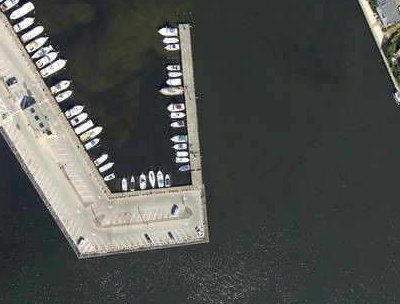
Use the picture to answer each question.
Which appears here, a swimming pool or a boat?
boat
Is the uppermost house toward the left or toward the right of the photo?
right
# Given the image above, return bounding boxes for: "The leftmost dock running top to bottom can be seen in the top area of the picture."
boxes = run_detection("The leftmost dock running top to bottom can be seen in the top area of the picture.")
[179,24,204,186]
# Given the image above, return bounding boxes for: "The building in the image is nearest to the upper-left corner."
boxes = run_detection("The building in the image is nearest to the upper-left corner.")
[24,102,52,135]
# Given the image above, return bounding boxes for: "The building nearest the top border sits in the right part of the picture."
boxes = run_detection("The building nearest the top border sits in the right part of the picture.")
[375,0,400,28]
